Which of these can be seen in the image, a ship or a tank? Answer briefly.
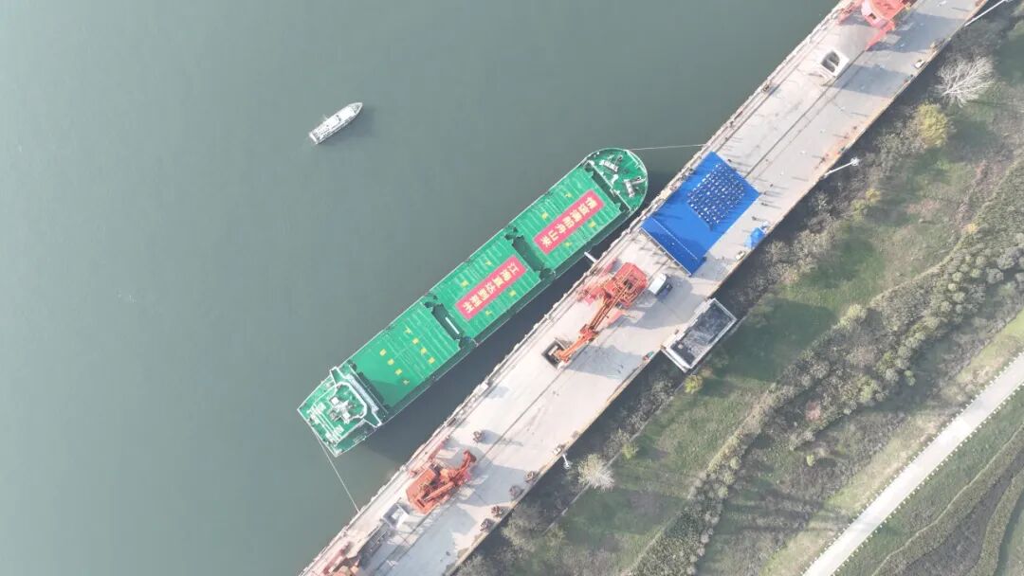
ship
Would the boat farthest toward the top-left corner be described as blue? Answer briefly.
No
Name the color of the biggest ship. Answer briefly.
green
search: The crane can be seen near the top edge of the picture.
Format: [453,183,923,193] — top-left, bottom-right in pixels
[837,0,914,48]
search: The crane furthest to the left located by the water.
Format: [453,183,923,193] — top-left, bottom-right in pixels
[315,544,356,576]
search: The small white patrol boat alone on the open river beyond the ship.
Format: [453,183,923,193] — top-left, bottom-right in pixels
[309,105,361,145]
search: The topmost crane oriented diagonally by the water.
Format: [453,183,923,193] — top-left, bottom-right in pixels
[556,257,650,364]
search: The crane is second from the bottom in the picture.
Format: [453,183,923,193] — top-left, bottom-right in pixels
[411,435,480,517]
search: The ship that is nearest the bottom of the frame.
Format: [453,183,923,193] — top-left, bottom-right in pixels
[294,146,650,452]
